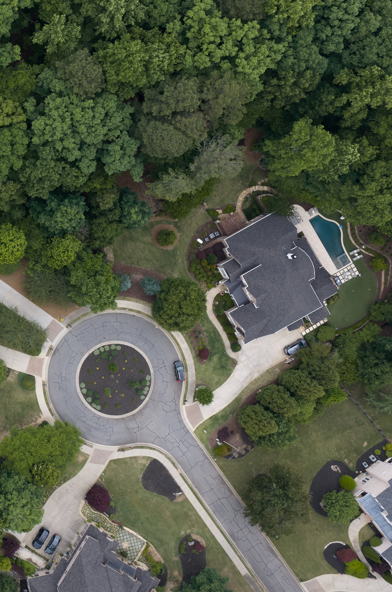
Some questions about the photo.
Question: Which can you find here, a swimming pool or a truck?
swimming pool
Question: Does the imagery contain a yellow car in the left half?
No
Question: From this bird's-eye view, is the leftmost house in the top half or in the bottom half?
bottom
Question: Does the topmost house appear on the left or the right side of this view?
right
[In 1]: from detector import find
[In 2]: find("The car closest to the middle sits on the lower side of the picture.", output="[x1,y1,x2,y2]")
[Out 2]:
[175,362,187,383]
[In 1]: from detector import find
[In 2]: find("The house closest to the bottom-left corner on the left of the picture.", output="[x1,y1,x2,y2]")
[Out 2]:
[26,516,161,592]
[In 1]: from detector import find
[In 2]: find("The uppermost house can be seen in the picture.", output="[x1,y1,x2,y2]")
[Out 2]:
[214,210,343,345]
